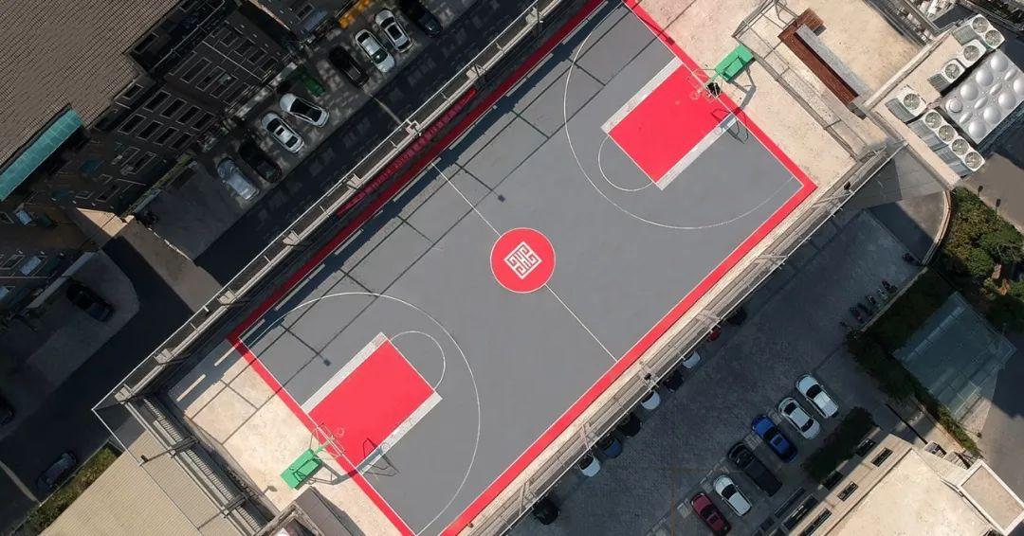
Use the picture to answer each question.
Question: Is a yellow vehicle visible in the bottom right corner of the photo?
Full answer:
No, there is no yellow vehicle in the bottom right corner of the photo.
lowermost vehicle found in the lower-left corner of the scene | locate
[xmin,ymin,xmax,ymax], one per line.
[30,449,83,495]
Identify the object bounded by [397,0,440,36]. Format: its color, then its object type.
black car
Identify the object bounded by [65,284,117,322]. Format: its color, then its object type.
black car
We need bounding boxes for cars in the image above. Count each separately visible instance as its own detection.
[676,343,707,375]
[594,425,625,459]
[236,137,281,181]
[686,492,735,536]
[259,112,306,153]
[65,284,117,322]
[793,372,842,420]
[327,44,371,88]
[279,91,329,129]
[572,445,601,478]
[655,361,688,397]
[634,386,665,415]
[611,405,644,440]
[528,486,559,523]
[397,0,440,36]
[374,10,415,50]
[751,415,800,464]
[710,473,754,519]
[730,444,783,497]
[214,158,259,203]
[722,299,754,332]
[700,321,726,348]
[775,394,823,444]
[30,449,83,495]
[353,29,397,75]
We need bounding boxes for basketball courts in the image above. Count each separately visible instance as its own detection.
[224,0,819,536]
